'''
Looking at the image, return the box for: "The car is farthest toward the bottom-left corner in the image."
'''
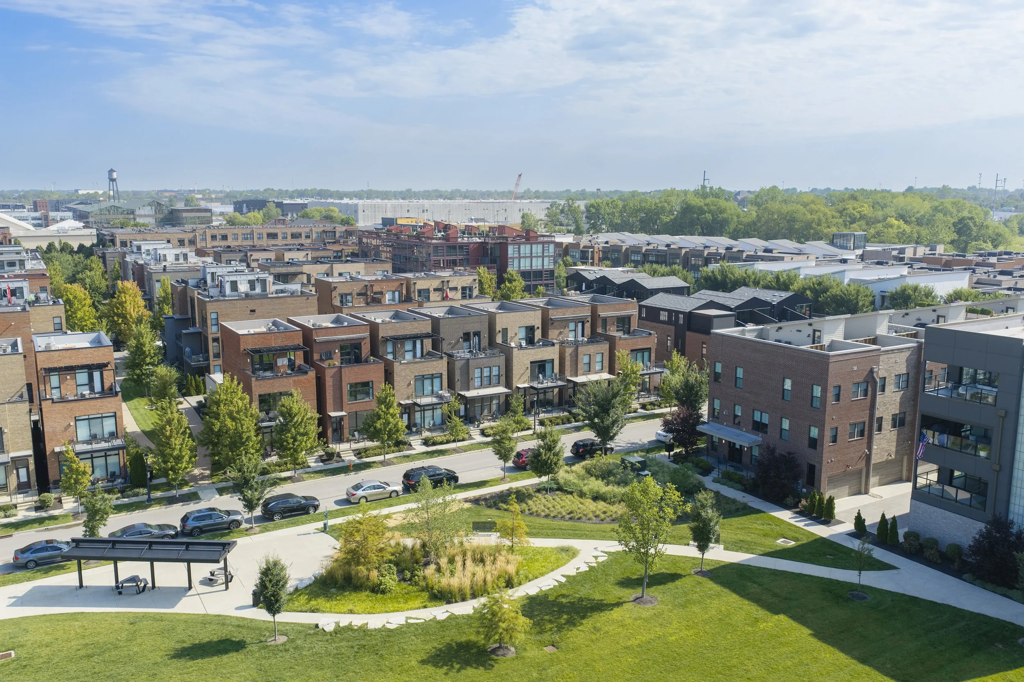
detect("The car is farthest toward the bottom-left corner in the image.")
[13,538,76,569]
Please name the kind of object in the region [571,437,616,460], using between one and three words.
car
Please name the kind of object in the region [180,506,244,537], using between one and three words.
car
